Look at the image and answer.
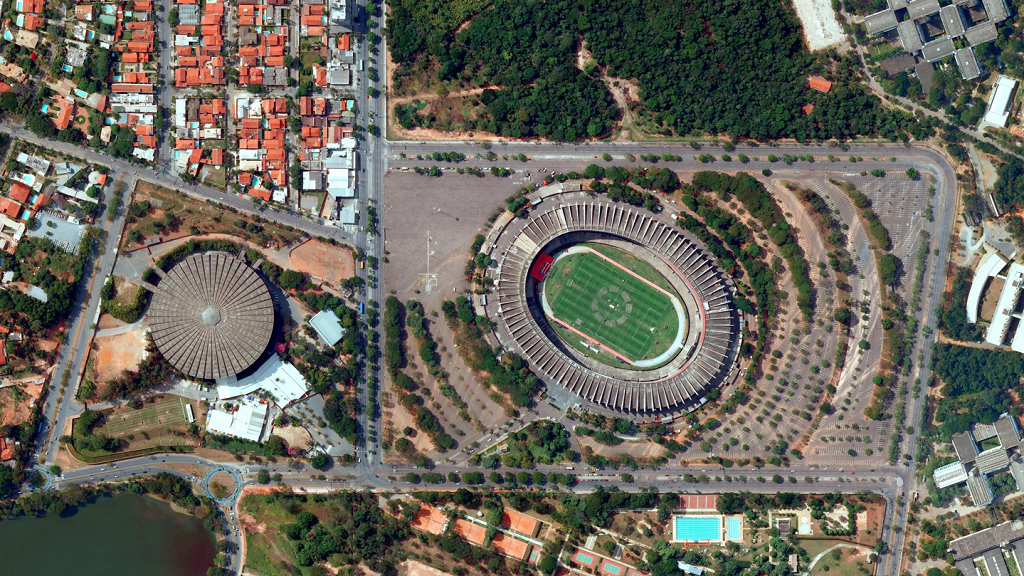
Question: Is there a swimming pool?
Yes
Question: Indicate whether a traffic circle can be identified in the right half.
No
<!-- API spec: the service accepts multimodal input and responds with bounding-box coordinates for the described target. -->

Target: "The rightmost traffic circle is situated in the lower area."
[202,464,243,505]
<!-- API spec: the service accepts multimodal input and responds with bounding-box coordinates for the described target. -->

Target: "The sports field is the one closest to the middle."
[552,251,671,361]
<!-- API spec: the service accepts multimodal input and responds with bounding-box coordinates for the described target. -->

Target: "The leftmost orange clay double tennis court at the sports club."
[411,502,447,534]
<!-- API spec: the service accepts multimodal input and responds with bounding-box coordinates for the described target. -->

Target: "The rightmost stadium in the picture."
[494,200,733,413]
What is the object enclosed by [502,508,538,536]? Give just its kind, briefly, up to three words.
tennis court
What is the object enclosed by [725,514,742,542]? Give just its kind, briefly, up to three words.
swimming pool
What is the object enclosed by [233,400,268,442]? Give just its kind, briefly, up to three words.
building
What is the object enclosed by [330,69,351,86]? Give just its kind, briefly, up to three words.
house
